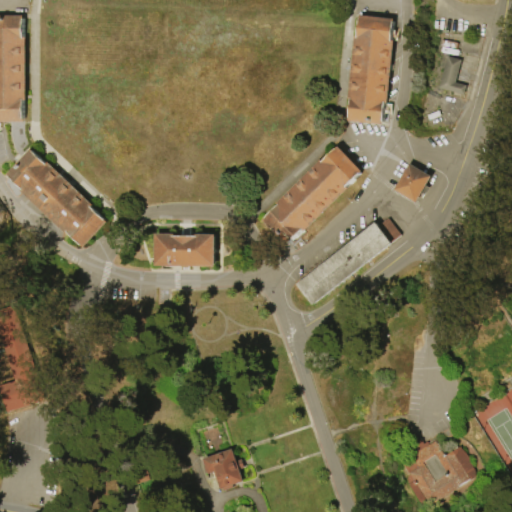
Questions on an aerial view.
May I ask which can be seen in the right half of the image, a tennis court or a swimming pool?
tennis court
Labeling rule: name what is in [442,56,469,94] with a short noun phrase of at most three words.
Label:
house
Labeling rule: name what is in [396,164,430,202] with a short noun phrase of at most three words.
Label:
building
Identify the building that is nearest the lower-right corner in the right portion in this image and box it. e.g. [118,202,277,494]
[406,436,476,504]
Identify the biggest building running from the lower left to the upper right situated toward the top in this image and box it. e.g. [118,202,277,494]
[264,146,364,241]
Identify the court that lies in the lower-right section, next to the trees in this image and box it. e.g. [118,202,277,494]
[476,390,512,468]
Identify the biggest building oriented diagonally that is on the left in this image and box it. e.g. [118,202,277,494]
[8,148,109,247]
